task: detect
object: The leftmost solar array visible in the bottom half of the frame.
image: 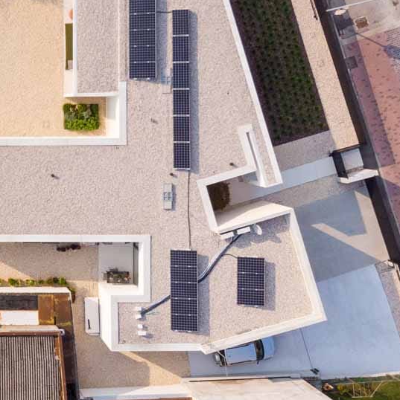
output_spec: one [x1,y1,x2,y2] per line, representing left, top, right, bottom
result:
[171,248,198,332]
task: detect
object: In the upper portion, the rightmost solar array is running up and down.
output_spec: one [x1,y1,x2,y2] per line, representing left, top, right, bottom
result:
[173,9,189,171]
